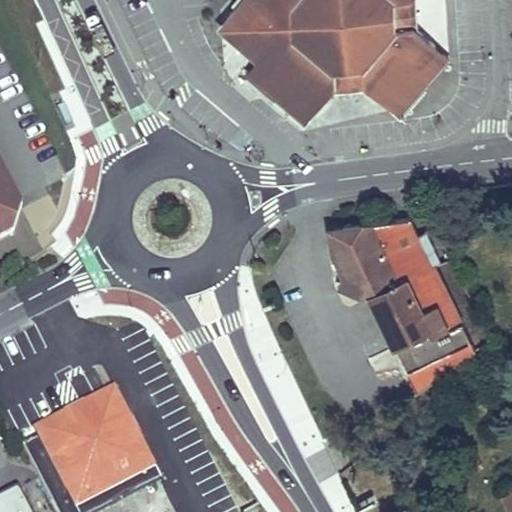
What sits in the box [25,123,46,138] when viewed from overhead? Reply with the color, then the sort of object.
white car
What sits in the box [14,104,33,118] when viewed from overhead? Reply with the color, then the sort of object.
white vehicle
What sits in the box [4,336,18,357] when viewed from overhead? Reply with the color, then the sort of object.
white car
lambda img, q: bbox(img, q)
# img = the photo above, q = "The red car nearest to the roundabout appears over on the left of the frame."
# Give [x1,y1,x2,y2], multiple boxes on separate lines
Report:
[28,135,48,150]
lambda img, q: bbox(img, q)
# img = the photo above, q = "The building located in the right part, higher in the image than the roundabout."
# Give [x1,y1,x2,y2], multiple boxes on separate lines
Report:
[218,0,450,126]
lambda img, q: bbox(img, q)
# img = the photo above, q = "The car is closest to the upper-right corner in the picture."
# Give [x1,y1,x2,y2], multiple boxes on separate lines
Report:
[291,152,312,172]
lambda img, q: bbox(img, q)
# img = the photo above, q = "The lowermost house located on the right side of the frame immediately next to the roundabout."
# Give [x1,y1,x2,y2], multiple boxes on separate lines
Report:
[327,222,476,394]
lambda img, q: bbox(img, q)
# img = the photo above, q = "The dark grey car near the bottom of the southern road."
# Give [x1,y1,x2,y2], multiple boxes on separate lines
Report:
[278,468,296,490]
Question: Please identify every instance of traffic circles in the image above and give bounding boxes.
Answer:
[78,125,296,325]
